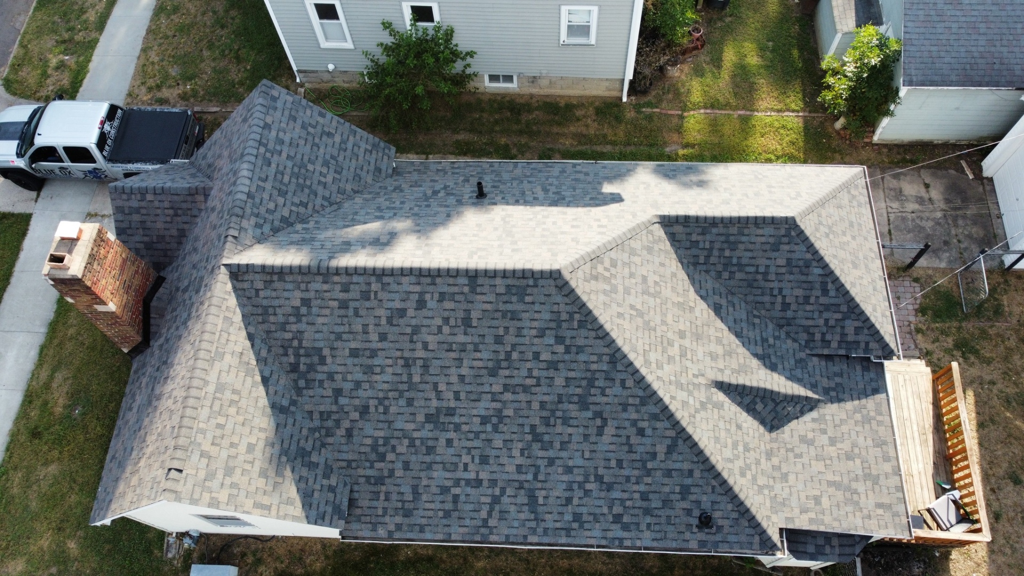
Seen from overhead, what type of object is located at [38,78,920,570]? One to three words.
house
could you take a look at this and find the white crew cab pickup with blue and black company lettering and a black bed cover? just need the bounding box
[0,90,220,192]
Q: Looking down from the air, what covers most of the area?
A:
buildings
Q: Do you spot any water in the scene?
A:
No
